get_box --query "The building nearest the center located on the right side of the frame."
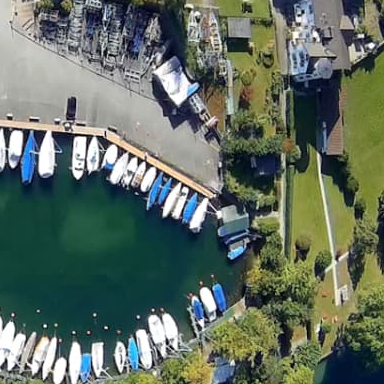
[219,205,249,232]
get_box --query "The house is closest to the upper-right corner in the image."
[285,0,383,83]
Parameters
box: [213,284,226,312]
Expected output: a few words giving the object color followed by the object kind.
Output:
blue boat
